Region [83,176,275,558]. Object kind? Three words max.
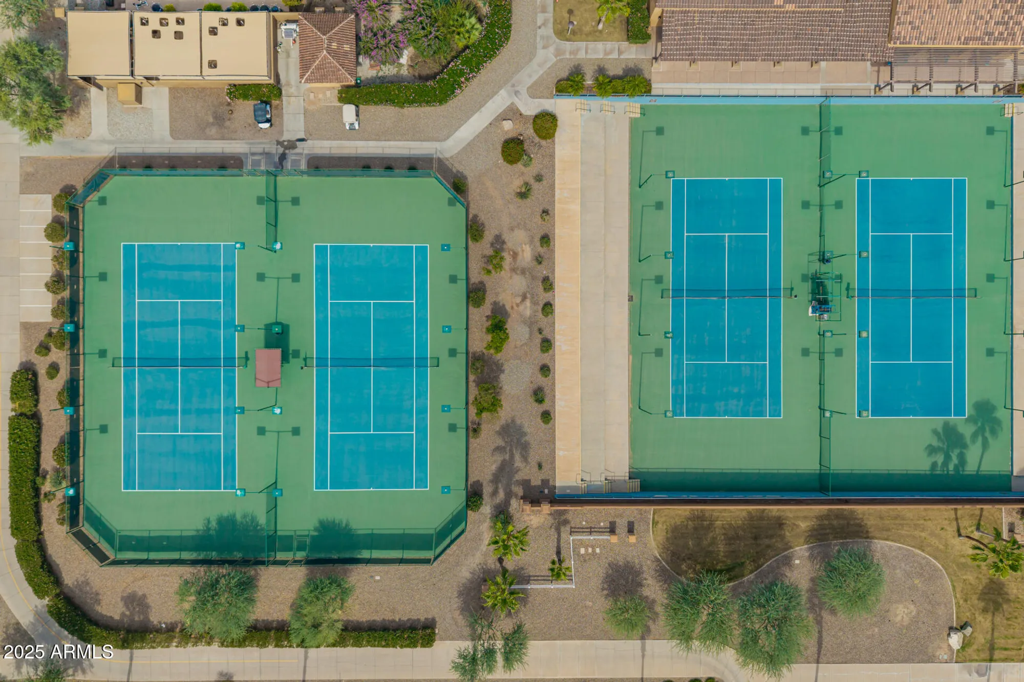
tennis court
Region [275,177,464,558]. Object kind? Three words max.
tennis court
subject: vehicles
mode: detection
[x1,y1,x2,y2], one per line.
[344,103,361,132]
[254,102,274,131]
